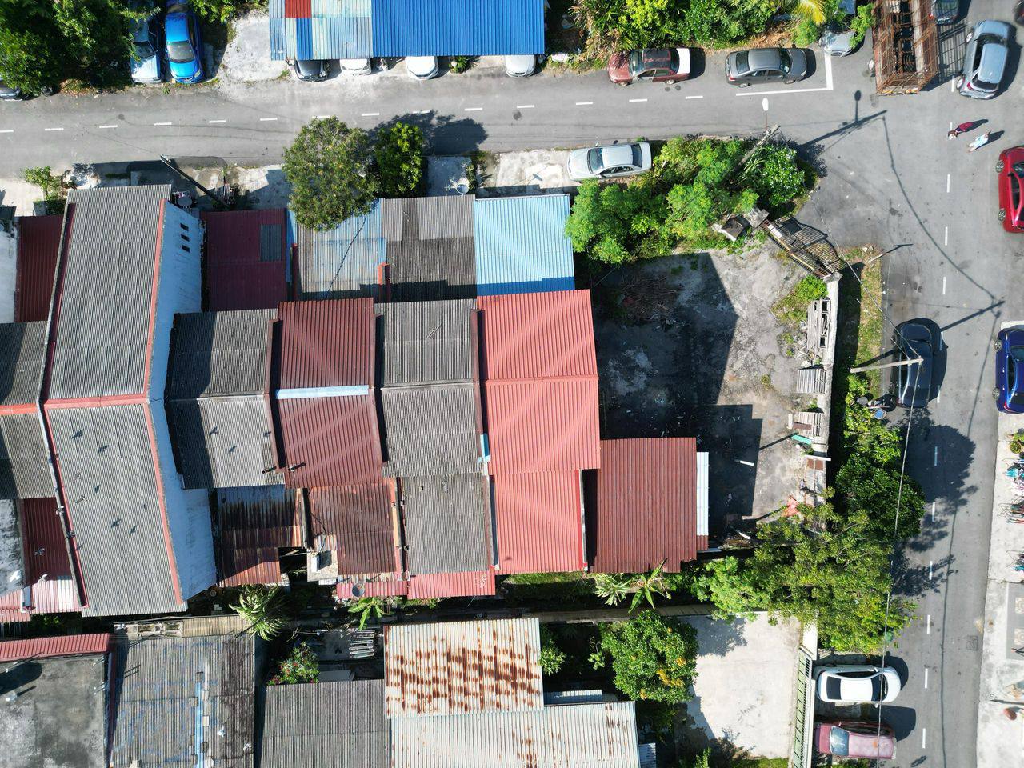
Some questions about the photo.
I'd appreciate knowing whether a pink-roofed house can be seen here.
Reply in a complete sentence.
Yes, a pink-roofed house is visible in the scene.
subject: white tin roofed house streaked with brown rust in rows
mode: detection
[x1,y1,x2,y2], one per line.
[383,612,657,768]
